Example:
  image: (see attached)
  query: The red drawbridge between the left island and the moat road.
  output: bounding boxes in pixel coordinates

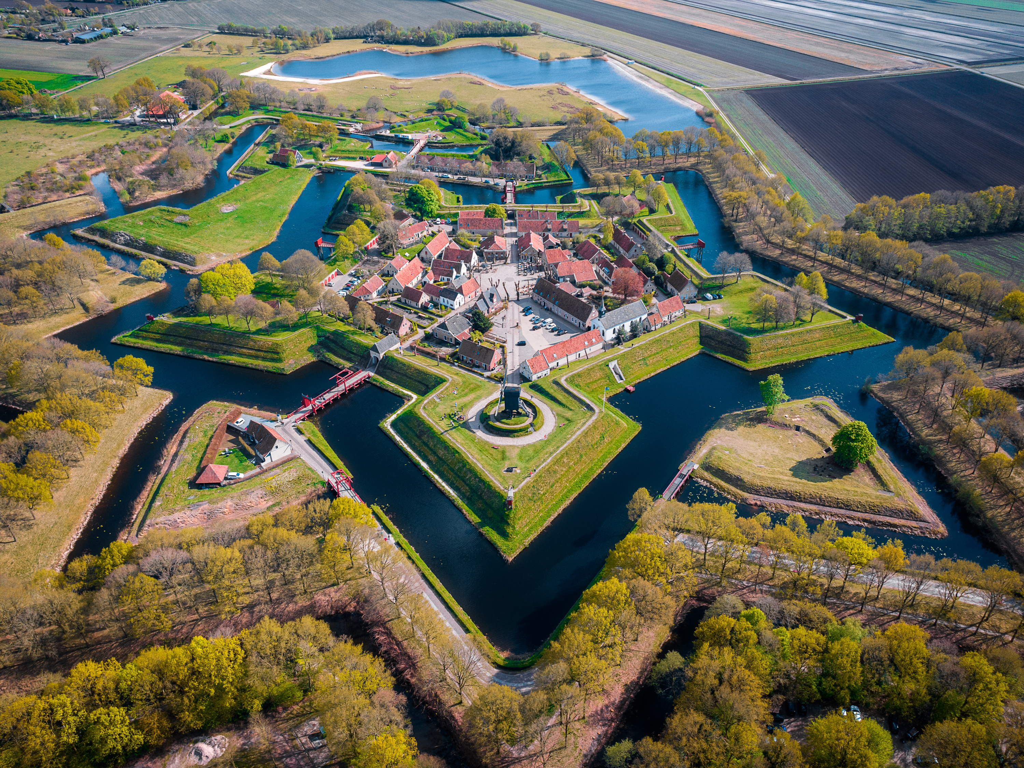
[325,459,365,502]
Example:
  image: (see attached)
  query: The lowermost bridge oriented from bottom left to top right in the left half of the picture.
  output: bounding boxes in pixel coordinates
[285,364,371,423]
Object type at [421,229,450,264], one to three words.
building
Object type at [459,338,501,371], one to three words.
house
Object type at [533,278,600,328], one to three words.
house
